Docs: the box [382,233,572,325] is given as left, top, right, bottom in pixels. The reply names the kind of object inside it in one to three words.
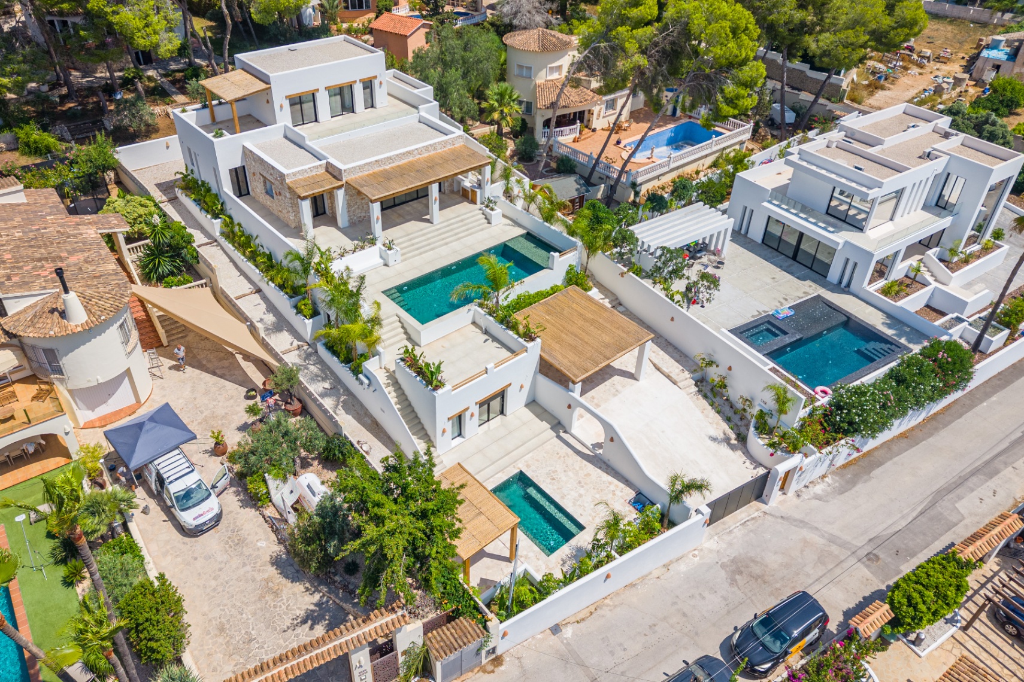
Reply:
swimming pool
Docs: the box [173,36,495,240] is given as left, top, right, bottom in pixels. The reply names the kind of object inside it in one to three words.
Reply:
house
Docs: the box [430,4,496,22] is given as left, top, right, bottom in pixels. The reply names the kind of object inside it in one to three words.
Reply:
swimming pool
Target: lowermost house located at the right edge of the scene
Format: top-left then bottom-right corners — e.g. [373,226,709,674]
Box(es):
[723,102,1024,293]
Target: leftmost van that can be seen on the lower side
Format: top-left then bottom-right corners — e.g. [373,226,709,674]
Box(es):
[151,454,228,536]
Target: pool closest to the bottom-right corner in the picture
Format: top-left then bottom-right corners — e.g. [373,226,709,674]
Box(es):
[733,293,913,393]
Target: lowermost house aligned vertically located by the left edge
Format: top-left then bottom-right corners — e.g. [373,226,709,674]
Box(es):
[0,174,159,502]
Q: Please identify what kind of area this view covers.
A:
residential area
